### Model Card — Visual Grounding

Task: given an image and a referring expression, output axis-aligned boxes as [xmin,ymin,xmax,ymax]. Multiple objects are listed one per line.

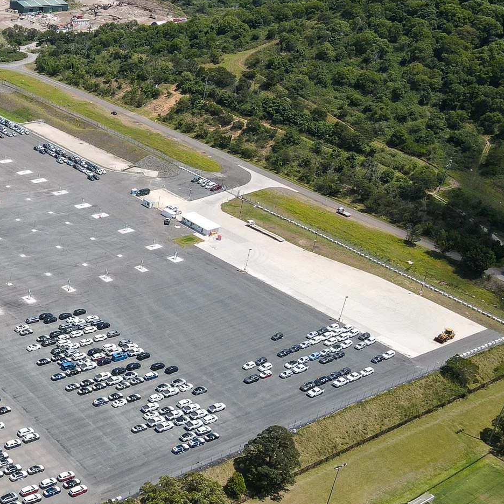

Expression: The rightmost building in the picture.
[181,212,225,237]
